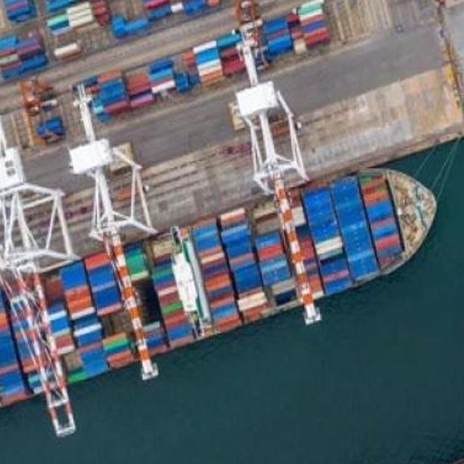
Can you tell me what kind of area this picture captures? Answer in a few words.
port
